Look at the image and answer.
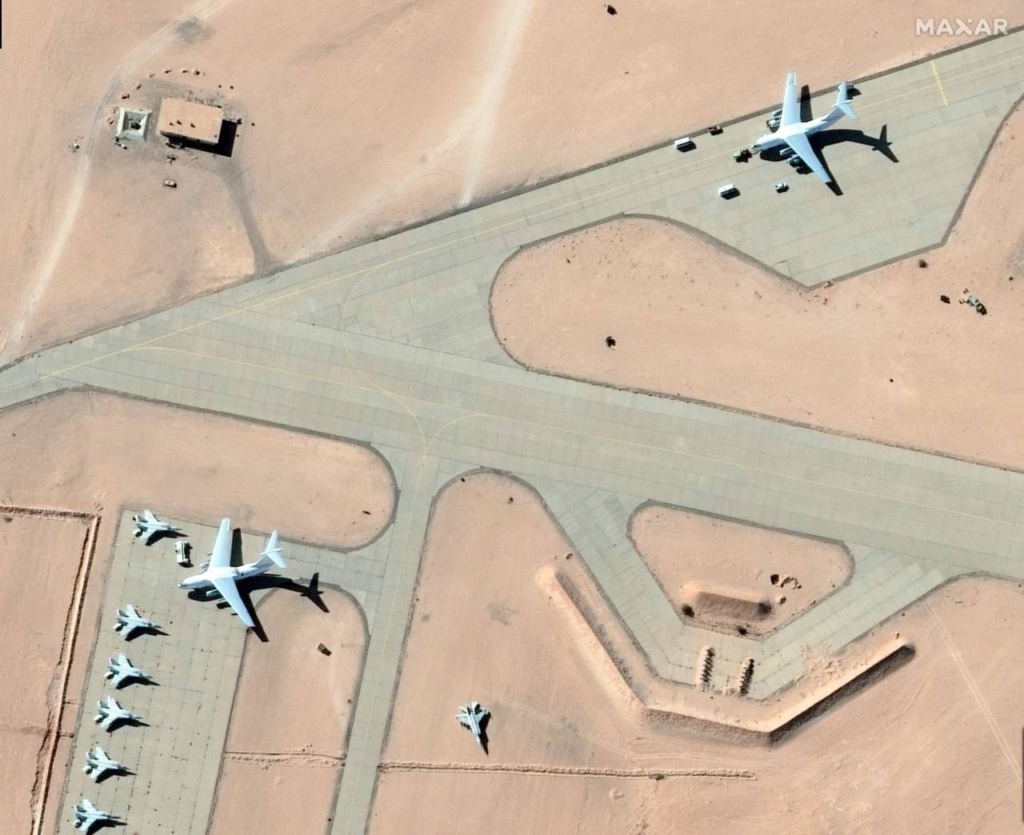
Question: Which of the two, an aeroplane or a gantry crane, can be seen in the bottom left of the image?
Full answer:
The feature located in the bottom left of the image is an aeroplane.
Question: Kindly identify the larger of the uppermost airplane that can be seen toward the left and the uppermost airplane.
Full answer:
The uppermost airplane that can be seen toward the left is smaller than the uppermost airplane.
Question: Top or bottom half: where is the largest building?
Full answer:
The largest building sits in the top half of the picture.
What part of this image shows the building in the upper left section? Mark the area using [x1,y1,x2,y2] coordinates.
[158,98,224,146]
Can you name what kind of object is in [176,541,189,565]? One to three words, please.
vehicle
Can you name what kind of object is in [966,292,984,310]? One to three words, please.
vehicle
